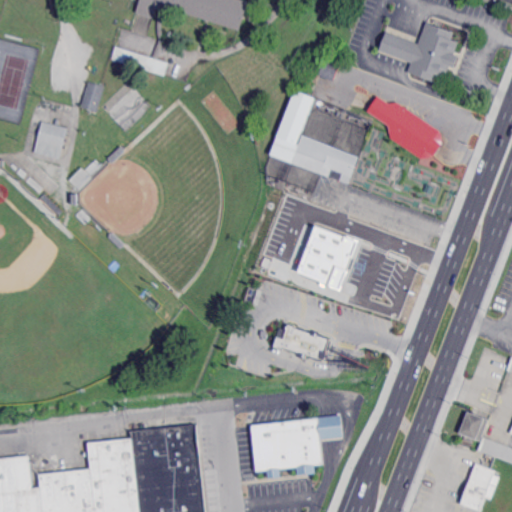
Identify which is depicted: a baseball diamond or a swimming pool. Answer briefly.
baseball diamond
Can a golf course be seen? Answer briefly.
Yes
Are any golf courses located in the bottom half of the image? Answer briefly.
No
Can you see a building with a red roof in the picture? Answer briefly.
Yes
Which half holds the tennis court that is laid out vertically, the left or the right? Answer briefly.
left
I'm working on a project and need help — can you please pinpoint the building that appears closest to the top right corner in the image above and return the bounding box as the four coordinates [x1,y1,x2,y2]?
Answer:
[380,21,460,80]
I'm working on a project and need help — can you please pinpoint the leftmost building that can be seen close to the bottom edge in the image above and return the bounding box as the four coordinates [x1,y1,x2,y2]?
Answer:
[0,438,140,512]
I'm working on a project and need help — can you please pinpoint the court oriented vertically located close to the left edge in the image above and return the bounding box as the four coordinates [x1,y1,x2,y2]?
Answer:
[0,38,38,124]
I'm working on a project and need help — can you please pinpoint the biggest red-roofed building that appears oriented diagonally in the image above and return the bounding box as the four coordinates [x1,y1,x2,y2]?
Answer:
[366,96,442,159]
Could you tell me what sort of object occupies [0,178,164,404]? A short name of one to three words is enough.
baseball field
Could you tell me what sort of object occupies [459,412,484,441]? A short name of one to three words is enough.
house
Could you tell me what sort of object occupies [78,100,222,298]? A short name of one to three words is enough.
baseball field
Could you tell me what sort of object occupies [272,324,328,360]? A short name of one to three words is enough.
building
